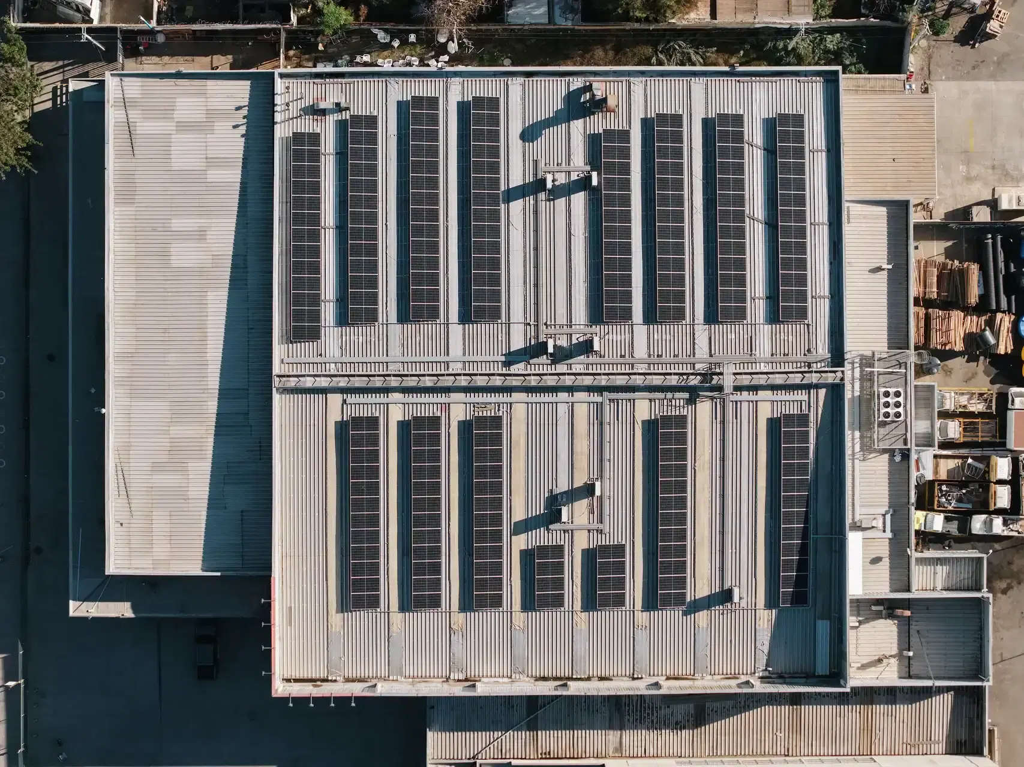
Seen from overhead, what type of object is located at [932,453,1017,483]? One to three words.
truck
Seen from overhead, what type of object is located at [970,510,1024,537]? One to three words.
truck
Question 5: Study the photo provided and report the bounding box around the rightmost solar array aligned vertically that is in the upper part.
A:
[777,111,808,322]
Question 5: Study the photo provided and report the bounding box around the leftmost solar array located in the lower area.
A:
[350,414,380,610]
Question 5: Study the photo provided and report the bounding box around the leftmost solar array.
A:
[291,131,321,341]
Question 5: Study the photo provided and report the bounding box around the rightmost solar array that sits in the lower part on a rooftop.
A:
[781,413,810,606]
